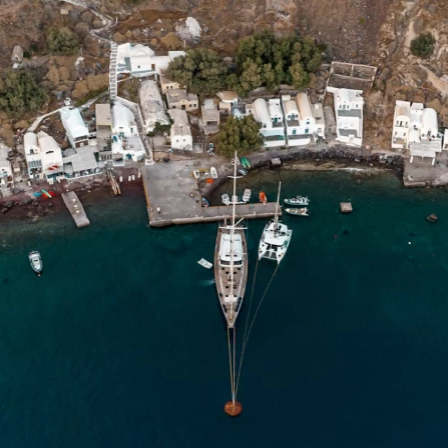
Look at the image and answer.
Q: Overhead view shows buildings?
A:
Yes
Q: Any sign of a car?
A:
No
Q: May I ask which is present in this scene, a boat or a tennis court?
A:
boat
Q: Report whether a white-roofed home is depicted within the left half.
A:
Yes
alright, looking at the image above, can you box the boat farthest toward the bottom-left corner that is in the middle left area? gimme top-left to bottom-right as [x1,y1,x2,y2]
[29,248,42,274]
